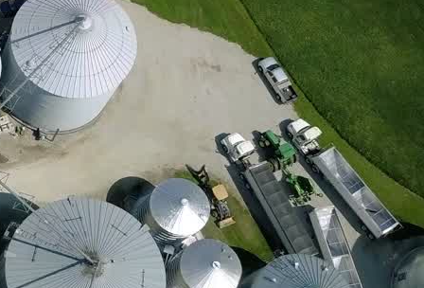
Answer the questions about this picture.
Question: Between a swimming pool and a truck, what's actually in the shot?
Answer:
truck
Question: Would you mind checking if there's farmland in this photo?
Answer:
Yes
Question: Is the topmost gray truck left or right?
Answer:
right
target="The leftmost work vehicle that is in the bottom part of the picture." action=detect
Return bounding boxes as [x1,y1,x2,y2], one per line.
[182,167,237,233]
